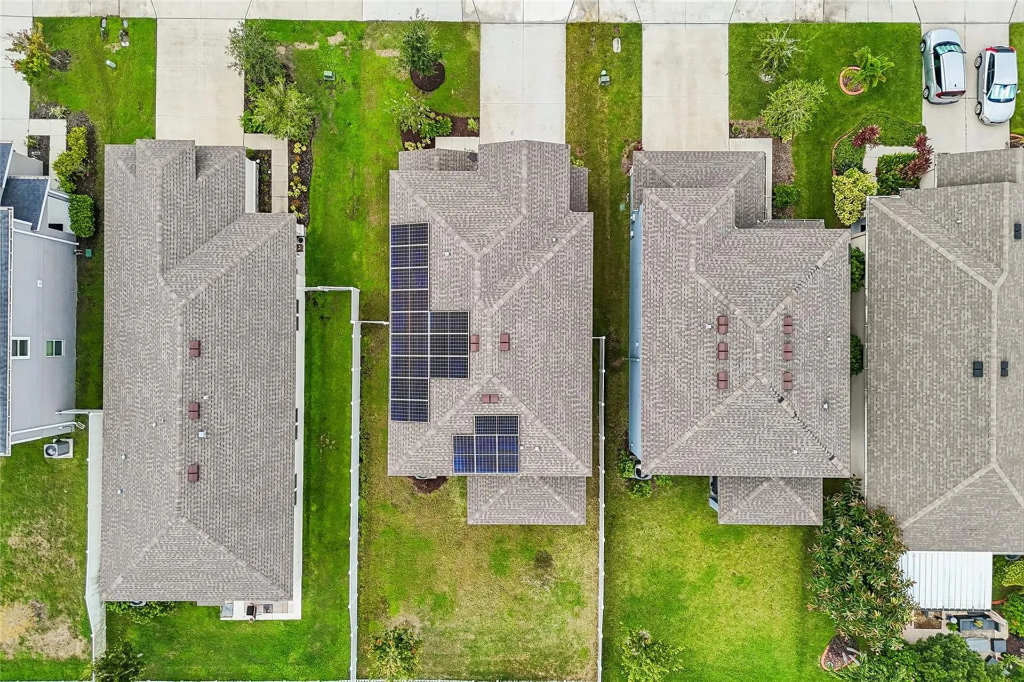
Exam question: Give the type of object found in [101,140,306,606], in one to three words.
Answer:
house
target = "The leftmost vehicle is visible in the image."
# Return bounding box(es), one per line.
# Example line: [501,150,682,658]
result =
[921,29,969,106]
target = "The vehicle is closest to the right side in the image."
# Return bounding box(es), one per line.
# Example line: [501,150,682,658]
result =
[974,46,1021,127]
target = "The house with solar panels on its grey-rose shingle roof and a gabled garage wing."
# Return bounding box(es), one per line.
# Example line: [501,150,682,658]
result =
[388,140,593,524]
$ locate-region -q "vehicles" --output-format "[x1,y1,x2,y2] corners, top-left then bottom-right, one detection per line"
[974,46,1021,127]
[921,29,969,106]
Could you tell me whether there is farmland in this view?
No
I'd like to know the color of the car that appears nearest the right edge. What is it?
white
